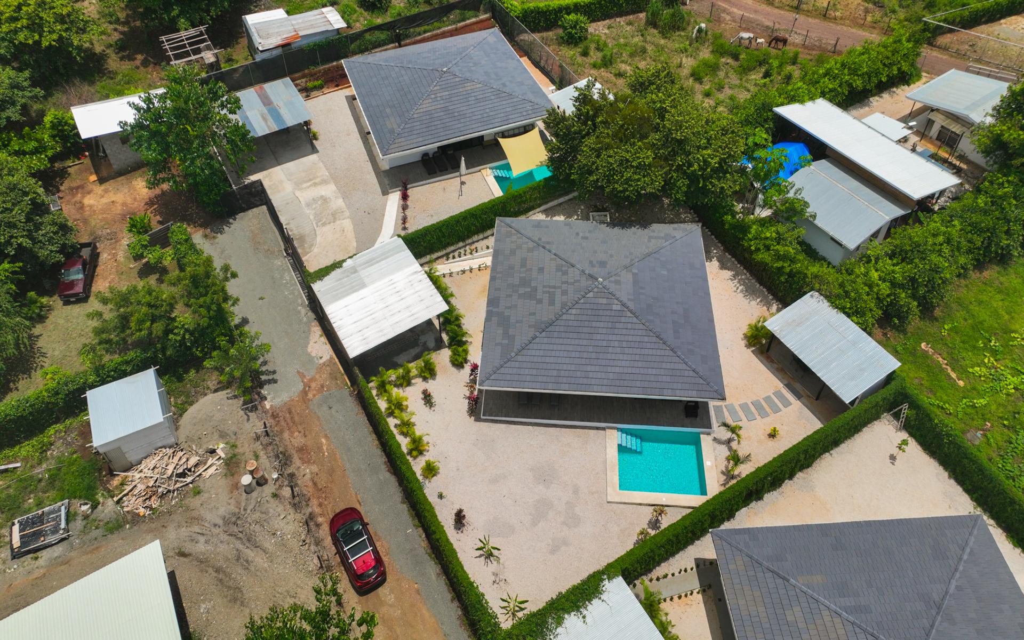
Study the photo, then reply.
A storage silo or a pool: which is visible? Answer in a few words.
pool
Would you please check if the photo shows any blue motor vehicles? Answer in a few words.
No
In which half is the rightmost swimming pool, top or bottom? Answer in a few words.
bottom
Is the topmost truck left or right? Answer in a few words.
left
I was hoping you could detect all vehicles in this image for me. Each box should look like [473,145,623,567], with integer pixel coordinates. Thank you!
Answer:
[332,511,386,599]
[60,242,106,302]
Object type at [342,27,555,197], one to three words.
house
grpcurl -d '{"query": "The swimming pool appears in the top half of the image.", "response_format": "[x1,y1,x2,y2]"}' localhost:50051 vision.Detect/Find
[482,152,565,198]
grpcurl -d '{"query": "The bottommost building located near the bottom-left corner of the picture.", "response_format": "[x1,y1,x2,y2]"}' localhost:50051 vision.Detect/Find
[0,540,215,640]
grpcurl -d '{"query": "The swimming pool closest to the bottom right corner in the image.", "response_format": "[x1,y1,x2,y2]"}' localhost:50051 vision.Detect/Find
[606,427,718,507]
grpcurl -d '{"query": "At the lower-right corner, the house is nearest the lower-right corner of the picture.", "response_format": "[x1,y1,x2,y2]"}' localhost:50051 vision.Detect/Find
[710,513,1024,640]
